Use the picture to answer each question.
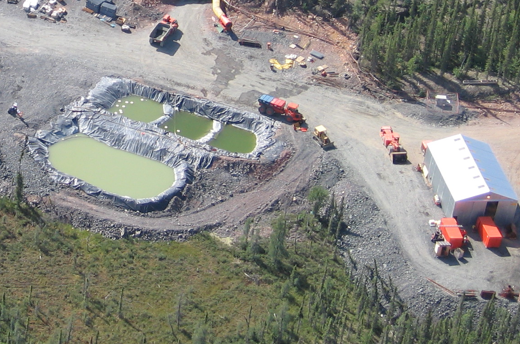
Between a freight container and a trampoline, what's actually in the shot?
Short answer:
freight container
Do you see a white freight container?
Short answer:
No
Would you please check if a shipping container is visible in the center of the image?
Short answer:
No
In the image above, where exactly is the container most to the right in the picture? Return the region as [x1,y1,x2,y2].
[474,214,502,247]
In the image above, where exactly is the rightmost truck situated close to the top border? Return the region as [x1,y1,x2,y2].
[148,17,181,45]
